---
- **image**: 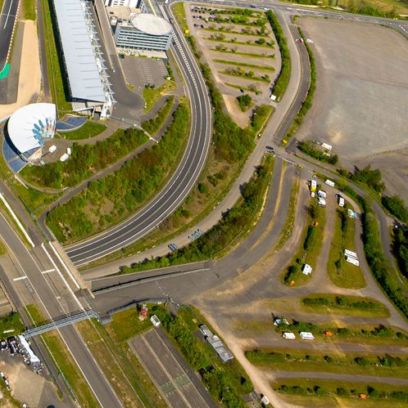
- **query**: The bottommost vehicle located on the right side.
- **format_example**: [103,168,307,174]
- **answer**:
[258,389,274,408]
